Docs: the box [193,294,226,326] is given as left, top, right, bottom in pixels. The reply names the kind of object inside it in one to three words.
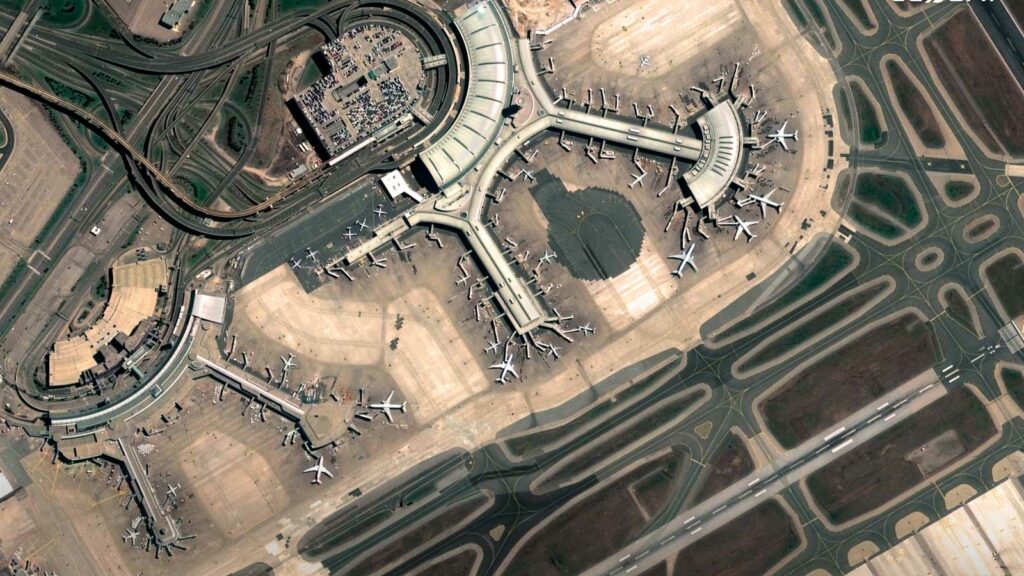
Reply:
building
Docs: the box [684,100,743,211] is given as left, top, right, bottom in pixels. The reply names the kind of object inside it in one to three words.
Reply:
building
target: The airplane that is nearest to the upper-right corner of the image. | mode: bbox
[766,122,798,150]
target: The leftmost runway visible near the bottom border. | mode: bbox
[574,367,948,576]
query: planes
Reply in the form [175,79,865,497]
[579,324,595,334]
[341,227,358,241]
[304,246,320,261]
[372,204,389,218]
[304,456,332,485]
[356,217,369,231]
[733,215,759,243]
[491,354,520,384]
[290,257,301,268]
[766,122,798,150]
[626,173,646,189]
[167,483,180,495]
[456,276,468,286]
[750,188,783,216]
[282,353,297,370]
[123,531,139,541]
[527,172,537,180]
[369,389,406,422]
[484,342,500,352]
[668,243,702,279]
[541,250,557,262]
[550,344,560,357]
